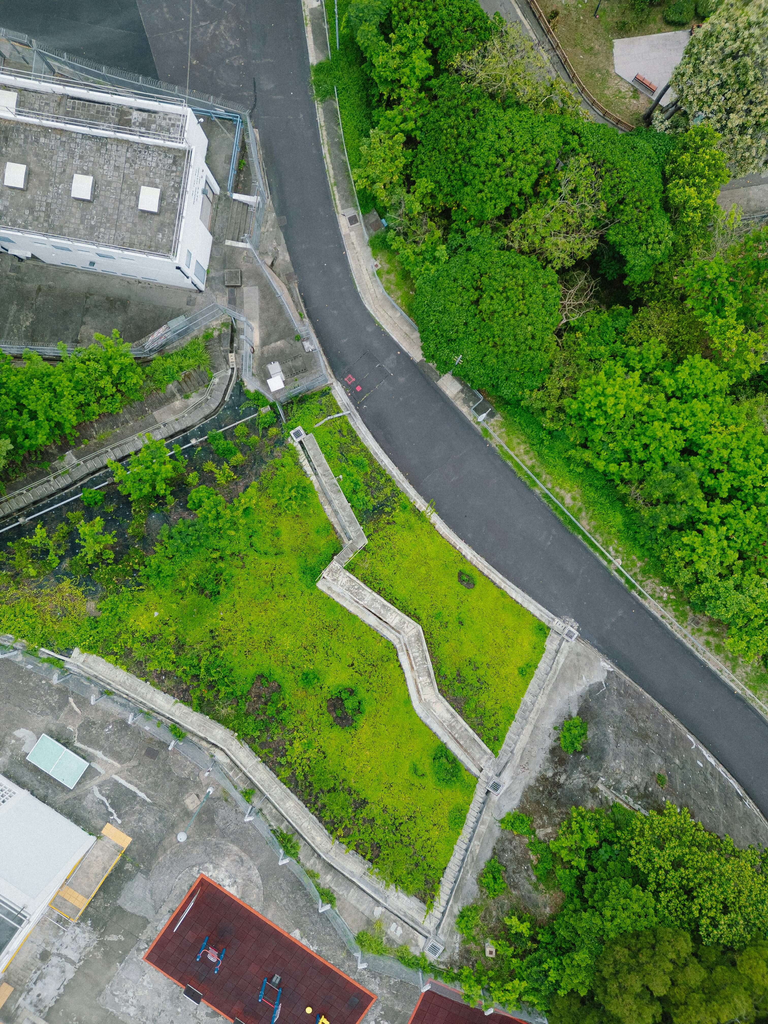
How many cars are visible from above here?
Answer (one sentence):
Not a single car can be seen.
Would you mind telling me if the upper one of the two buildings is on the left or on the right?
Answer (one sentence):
The upper one of the two buildings sits on the left side.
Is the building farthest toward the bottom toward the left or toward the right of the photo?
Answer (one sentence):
It is on the left.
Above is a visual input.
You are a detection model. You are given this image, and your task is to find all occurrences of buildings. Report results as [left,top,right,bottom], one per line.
[0,68,220,293]
[0,768,101,958]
